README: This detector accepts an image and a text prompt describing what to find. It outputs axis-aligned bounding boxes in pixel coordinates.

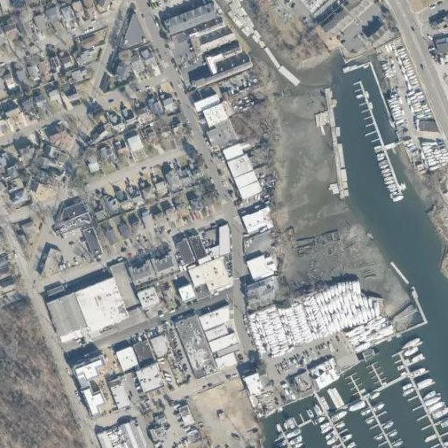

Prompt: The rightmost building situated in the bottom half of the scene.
[311,358,339,390]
